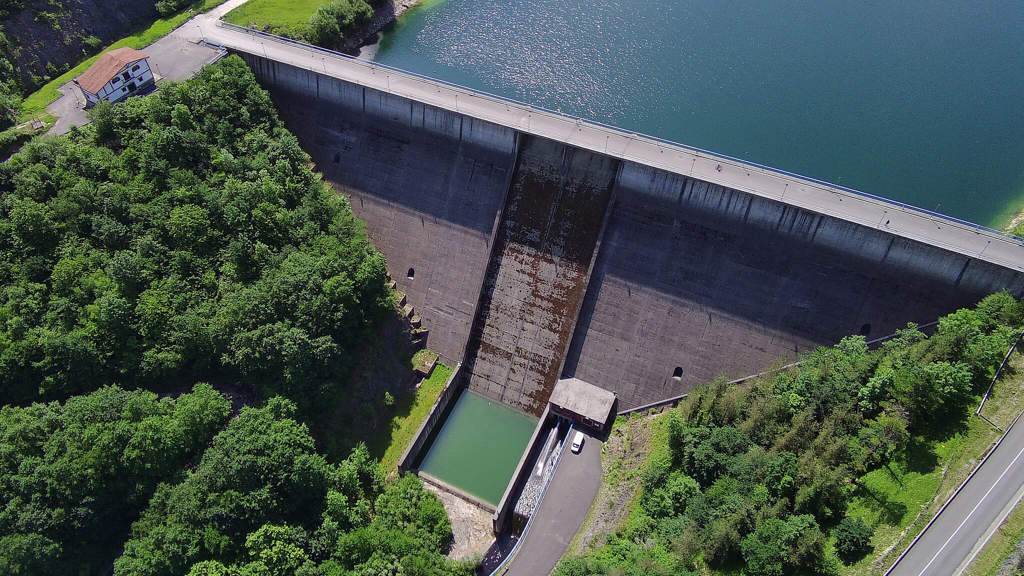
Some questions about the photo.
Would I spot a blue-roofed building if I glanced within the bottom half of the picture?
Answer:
No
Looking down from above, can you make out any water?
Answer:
Yes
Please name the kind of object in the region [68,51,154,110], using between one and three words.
house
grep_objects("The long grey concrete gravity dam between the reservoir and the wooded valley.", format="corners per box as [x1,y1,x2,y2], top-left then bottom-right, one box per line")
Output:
[218,24,1024,424]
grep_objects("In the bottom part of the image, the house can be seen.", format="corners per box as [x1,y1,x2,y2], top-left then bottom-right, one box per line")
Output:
[549,381,617,430]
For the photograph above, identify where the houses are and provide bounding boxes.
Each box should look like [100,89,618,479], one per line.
[68,51,154,110]
[549,381,617,430]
